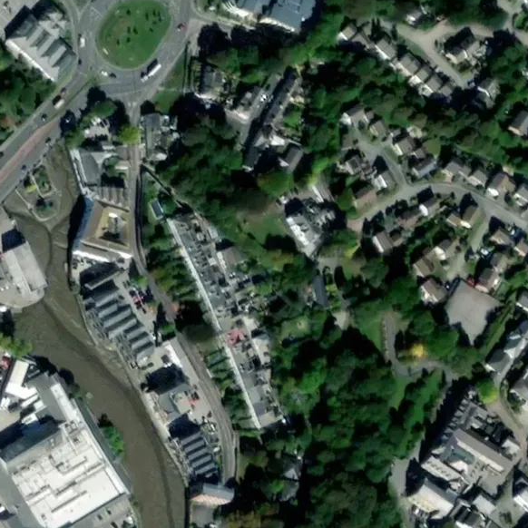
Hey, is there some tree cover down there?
Yes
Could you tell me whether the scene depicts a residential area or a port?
residential area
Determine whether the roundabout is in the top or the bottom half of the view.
top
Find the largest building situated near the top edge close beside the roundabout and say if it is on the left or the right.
left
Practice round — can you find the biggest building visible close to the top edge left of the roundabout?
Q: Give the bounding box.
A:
[5,12,75,85]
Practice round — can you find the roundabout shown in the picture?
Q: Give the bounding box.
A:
[76,0,189,86]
